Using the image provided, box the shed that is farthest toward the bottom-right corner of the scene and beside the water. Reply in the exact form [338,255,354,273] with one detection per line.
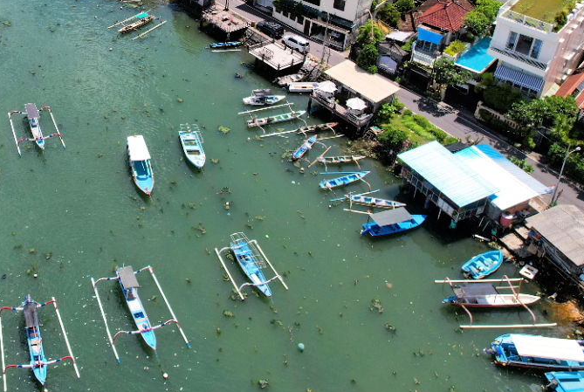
[519,204,584,285]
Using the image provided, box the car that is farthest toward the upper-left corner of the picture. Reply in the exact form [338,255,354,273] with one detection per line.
[254,18,285,40]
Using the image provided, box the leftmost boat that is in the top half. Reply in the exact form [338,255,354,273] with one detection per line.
[9,94,68,157]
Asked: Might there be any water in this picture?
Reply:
Yes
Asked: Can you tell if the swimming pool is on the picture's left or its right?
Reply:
right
